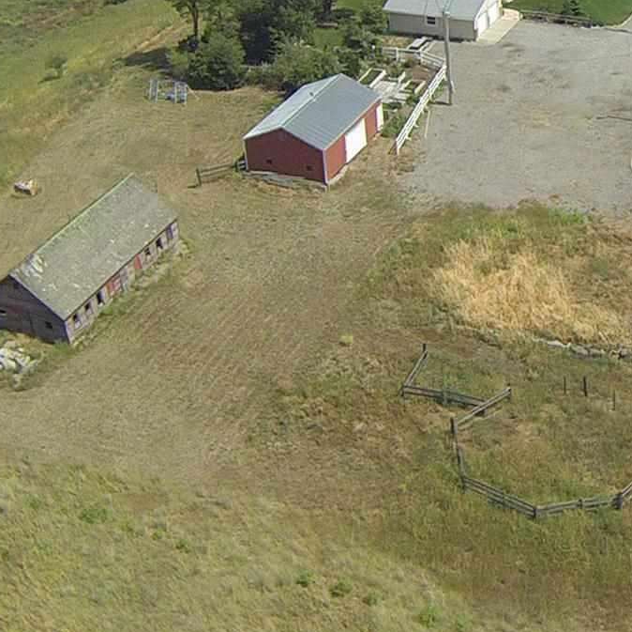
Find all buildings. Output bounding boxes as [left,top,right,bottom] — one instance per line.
[0,176,181,344]
[383,0,503,42]
[242,74,383,189]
